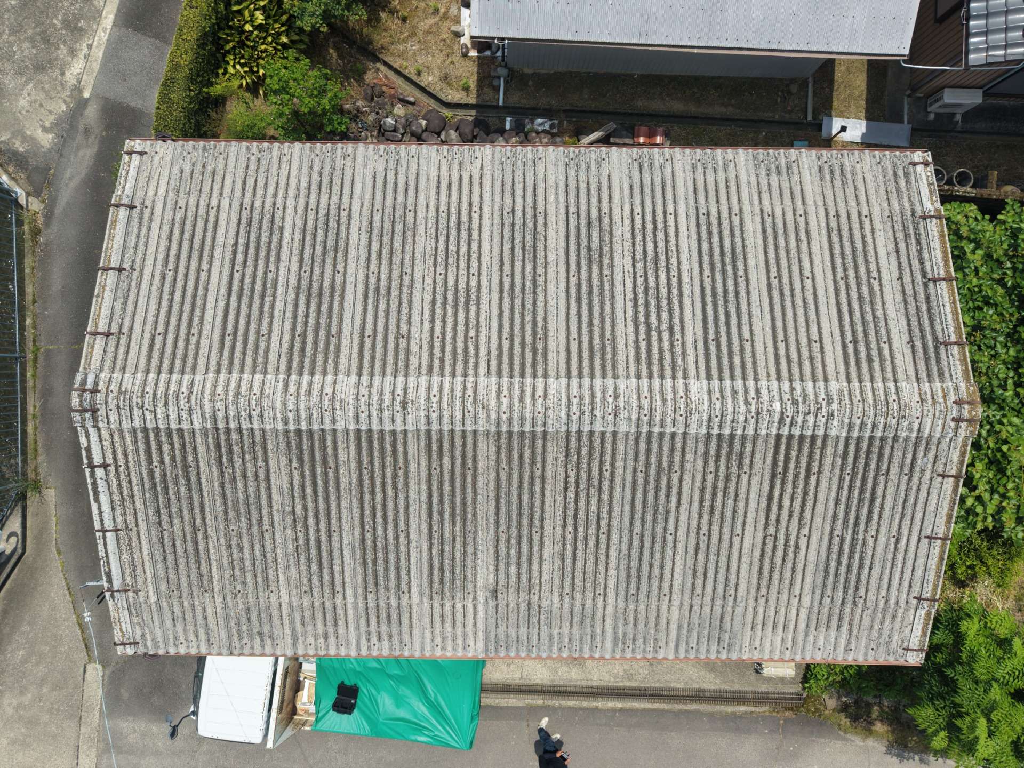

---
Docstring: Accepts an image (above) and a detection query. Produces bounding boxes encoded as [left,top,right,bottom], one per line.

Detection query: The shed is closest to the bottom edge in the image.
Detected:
[65,132,985,666]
